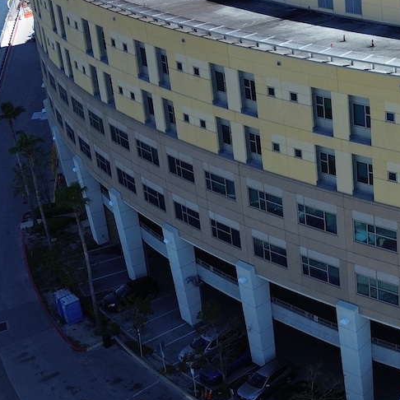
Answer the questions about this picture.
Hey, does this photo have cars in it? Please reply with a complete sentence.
Yes, the photo shows a car.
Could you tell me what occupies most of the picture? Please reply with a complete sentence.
What you mostly see from above here is buildings.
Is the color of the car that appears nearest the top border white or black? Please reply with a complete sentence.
In this view, the car that appears nearest the top border is black.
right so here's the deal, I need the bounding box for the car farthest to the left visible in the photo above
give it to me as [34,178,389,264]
[101,263,168,304]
